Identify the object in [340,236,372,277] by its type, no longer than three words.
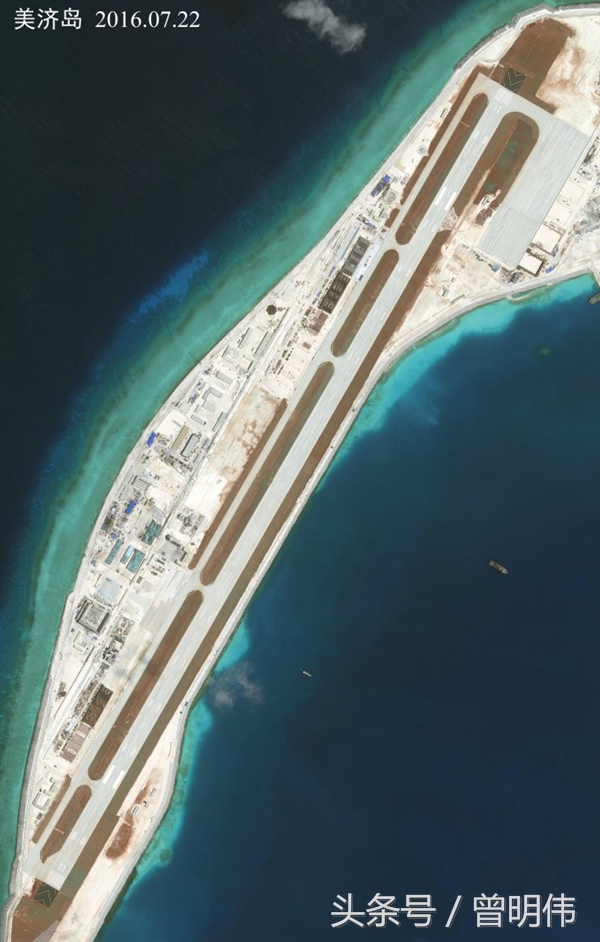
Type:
building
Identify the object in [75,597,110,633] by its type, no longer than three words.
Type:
building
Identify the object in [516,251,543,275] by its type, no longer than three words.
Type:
hangar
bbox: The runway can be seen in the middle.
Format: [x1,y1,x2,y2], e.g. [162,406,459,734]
[42,84,518,890]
